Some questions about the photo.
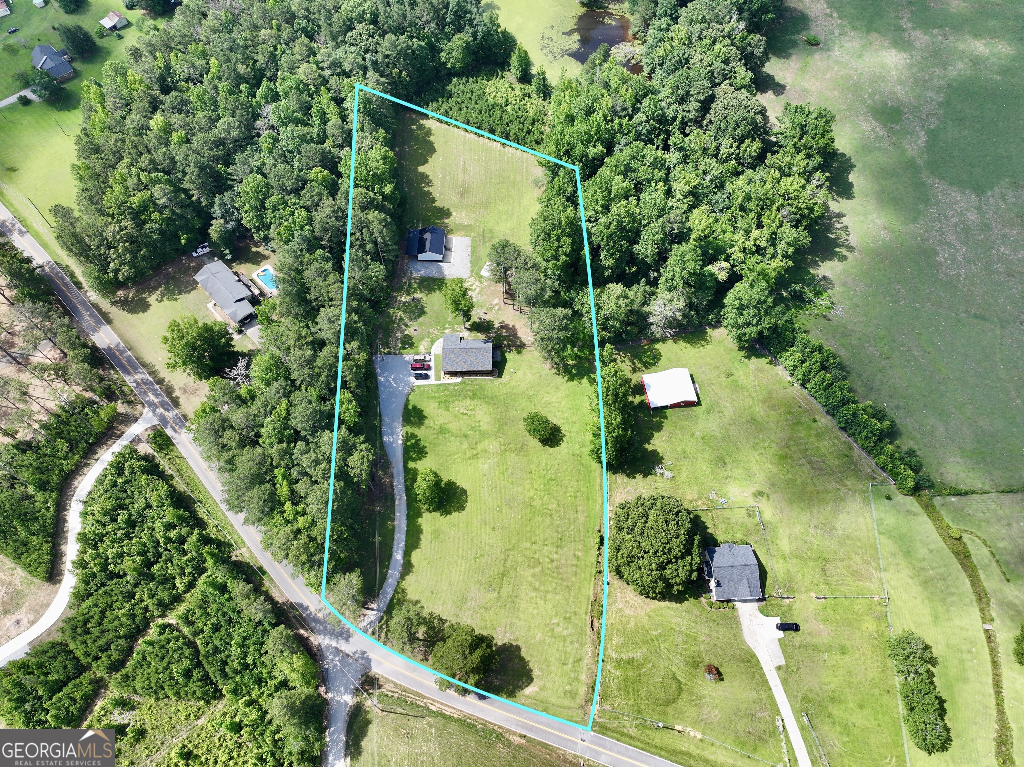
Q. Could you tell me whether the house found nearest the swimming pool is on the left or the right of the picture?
left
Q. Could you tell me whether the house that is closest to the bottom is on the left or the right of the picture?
right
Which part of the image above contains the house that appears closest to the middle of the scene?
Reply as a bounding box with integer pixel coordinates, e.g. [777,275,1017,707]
[442,334,492,380]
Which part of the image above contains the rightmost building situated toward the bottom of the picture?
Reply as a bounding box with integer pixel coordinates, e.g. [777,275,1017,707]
[702,543,762,602]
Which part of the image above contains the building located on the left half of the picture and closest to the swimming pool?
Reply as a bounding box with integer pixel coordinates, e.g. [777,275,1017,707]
[192,261,263,327]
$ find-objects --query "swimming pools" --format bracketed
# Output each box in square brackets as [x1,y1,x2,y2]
[252,264,282,295]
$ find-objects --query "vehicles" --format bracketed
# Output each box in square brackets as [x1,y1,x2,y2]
[413,355,430,363]
[245,315,254,322]
[413,372,429,381]
[192,245,212,258]
[771,622,800,633]
[411,363,430,372]
[7,28,20,34]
